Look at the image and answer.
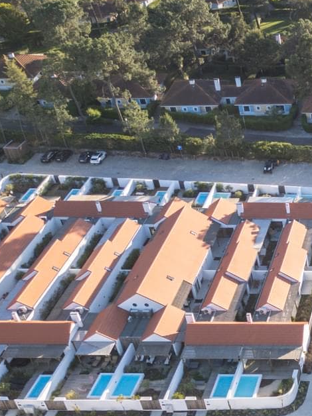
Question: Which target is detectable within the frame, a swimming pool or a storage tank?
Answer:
swimming pool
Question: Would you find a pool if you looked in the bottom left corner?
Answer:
Yes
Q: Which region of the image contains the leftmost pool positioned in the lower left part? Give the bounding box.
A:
[25,373,55,398]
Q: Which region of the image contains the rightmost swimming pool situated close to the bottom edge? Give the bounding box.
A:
[235,373,267,398]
